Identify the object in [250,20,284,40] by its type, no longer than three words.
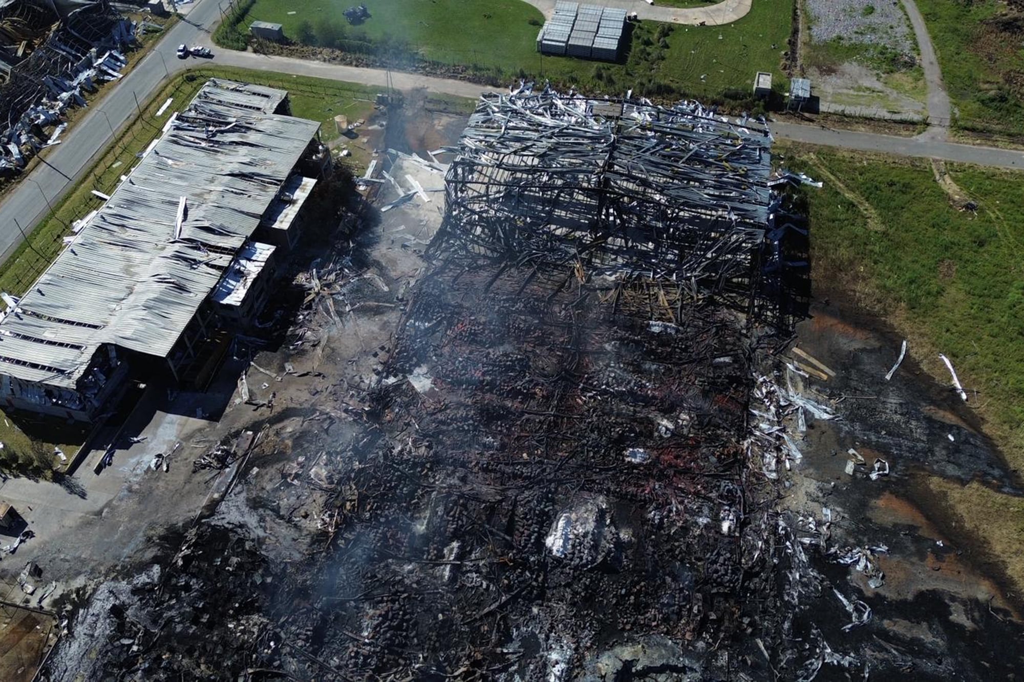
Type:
shed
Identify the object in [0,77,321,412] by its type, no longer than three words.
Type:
warehouse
